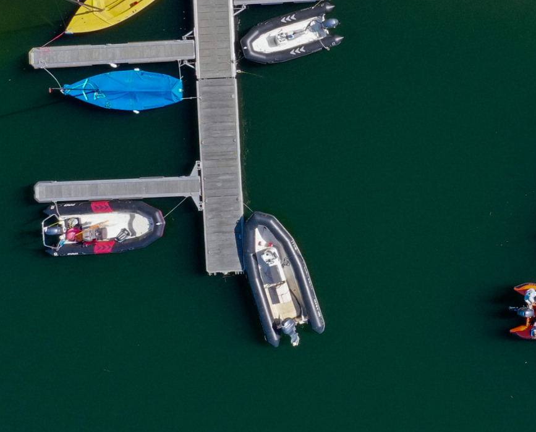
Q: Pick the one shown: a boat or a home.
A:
boat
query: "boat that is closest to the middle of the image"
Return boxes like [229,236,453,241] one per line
[241,211,325,347]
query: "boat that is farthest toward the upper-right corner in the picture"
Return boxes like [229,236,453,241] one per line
[239,2,344,64]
